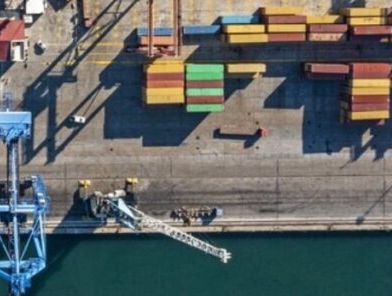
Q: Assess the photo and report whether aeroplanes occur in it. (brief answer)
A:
No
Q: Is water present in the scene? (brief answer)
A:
Yes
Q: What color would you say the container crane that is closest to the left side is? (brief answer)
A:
blue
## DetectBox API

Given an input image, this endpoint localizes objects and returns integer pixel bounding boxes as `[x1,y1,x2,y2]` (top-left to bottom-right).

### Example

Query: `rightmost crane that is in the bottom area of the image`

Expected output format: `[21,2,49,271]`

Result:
[81,179,229,263]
